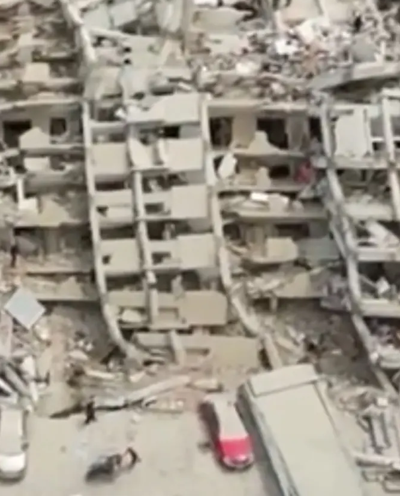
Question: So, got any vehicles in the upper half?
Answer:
No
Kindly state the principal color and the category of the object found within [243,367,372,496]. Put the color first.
white truck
